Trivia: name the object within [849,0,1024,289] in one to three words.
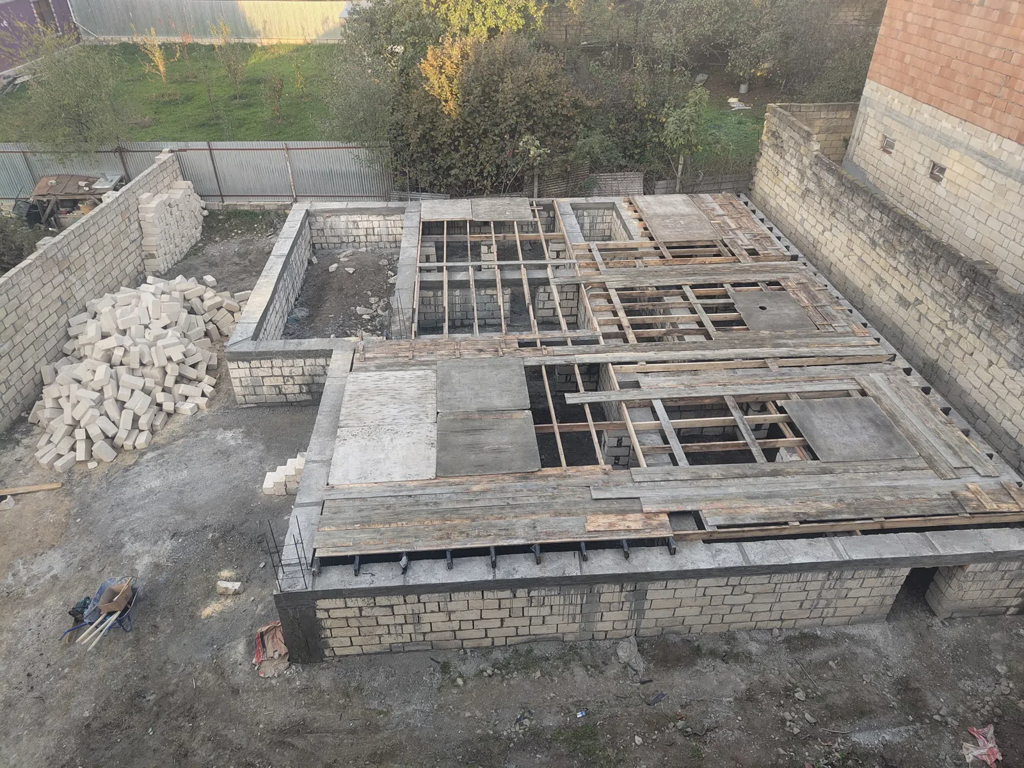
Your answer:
house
